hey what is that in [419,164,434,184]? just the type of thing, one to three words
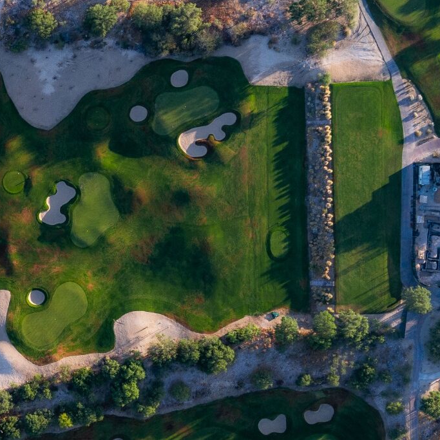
building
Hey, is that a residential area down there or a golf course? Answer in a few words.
golf course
